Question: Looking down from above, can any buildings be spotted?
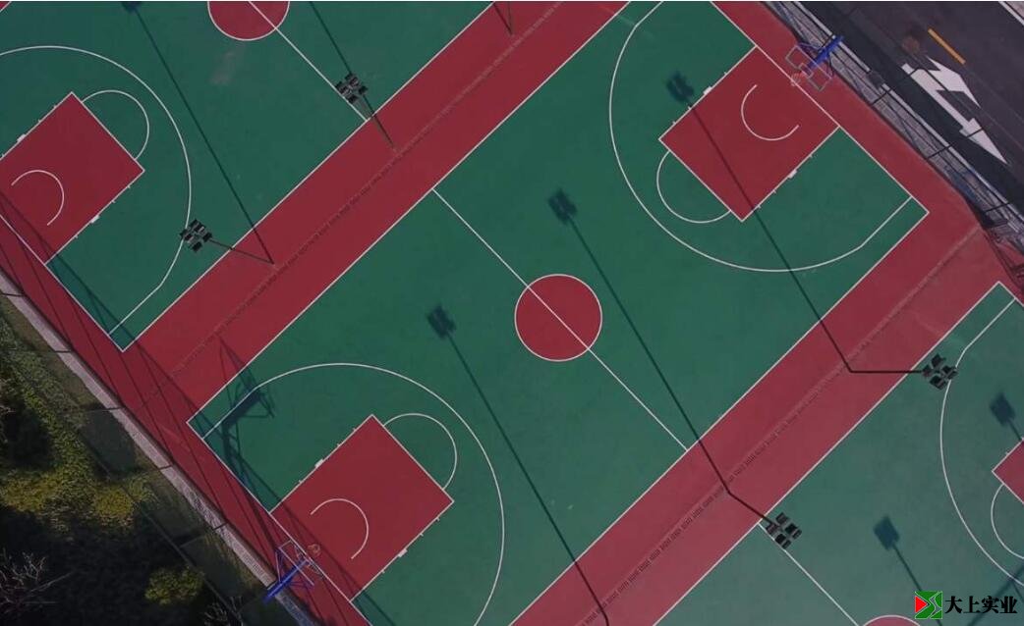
No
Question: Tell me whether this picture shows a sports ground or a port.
sports ground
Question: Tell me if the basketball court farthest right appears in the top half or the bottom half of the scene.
bottom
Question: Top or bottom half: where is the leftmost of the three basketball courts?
top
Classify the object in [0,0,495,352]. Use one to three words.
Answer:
basketball court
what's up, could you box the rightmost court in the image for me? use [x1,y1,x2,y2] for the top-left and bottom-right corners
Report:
[653,280,1024,626]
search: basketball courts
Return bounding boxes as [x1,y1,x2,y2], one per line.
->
[187,0,931,626]
[653,280,1024,626]
[0,0,495,352]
